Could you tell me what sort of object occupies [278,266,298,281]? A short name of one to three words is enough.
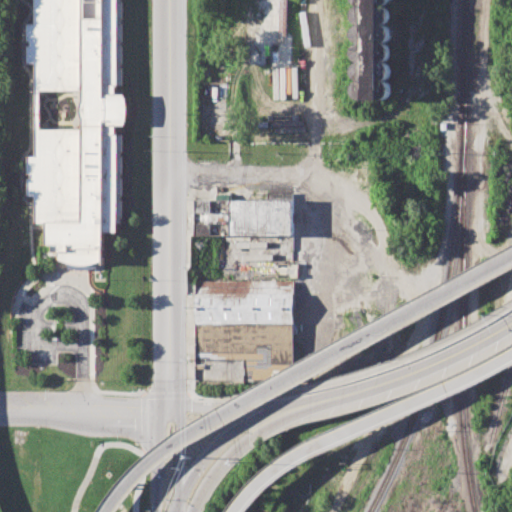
shed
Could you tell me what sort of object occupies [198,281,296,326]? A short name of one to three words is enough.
building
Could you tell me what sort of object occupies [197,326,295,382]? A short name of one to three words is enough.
building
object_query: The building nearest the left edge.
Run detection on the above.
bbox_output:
[26,0,129,274]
